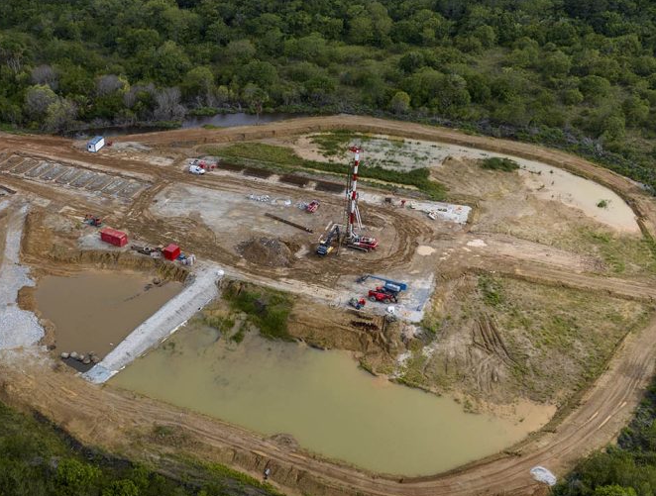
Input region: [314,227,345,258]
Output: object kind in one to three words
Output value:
work vehicle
